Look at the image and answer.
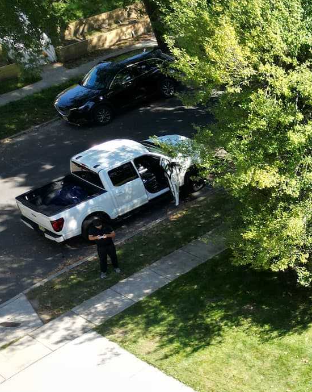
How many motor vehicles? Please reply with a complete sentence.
My tally gives 2 motor vehicles in this view.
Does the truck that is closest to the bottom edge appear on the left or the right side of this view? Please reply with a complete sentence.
You can find the truck that is closest to the bottom edge on the left side of the picture.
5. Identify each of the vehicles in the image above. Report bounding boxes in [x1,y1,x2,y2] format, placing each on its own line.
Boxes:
[52,44,183,123]
[4,132,213,243]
